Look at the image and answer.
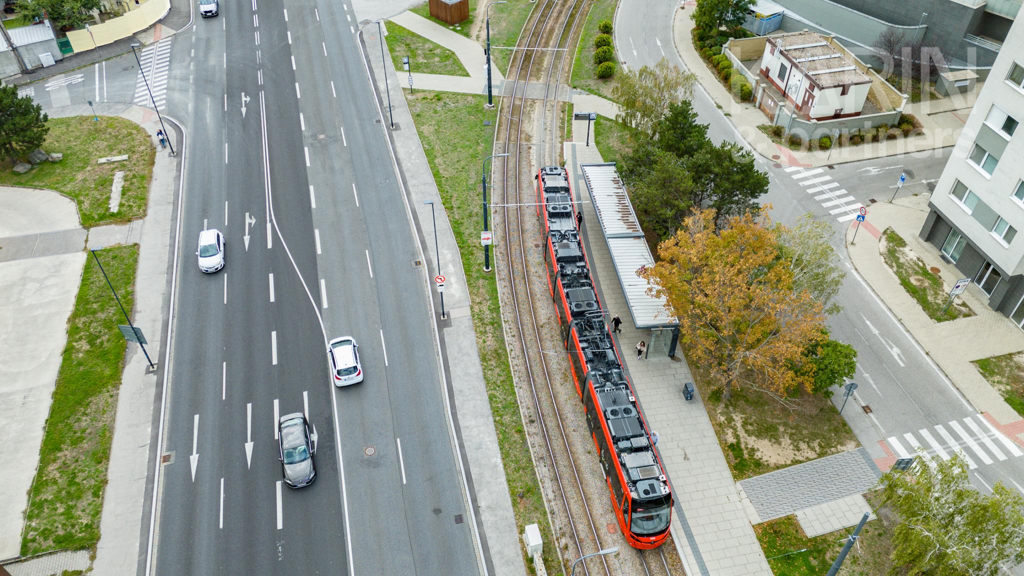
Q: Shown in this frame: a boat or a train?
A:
train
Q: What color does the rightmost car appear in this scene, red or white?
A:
white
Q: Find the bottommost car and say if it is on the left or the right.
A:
left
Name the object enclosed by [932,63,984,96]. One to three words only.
shed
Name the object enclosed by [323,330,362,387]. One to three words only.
car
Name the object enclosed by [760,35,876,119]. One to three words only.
house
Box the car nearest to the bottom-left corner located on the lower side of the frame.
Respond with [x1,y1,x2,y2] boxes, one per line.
[274,410,316,488]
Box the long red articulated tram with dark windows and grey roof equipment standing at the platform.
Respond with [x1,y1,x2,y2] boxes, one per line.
[535,166,677,548]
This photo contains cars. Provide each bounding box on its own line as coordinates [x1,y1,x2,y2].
[197,0,219,15]
[192,226,225,272]
[274,410,316,488]
[323,330,362,387]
